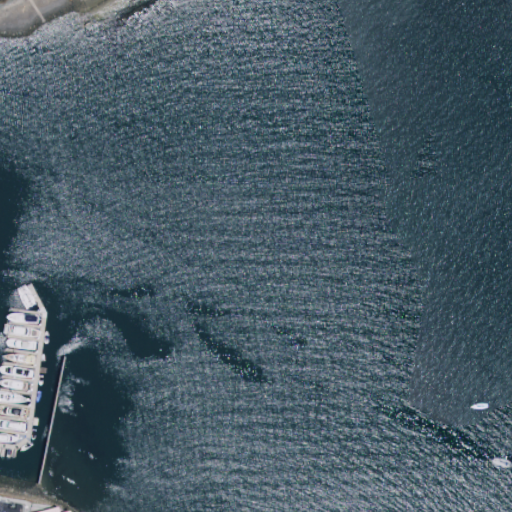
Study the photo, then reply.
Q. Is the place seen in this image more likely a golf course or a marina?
marina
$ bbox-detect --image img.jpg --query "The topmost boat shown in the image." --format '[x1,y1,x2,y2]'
[18,286,36,310]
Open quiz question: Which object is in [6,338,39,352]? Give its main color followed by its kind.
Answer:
white boat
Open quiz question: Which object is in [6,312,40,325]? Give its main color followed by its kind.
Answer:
white boat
